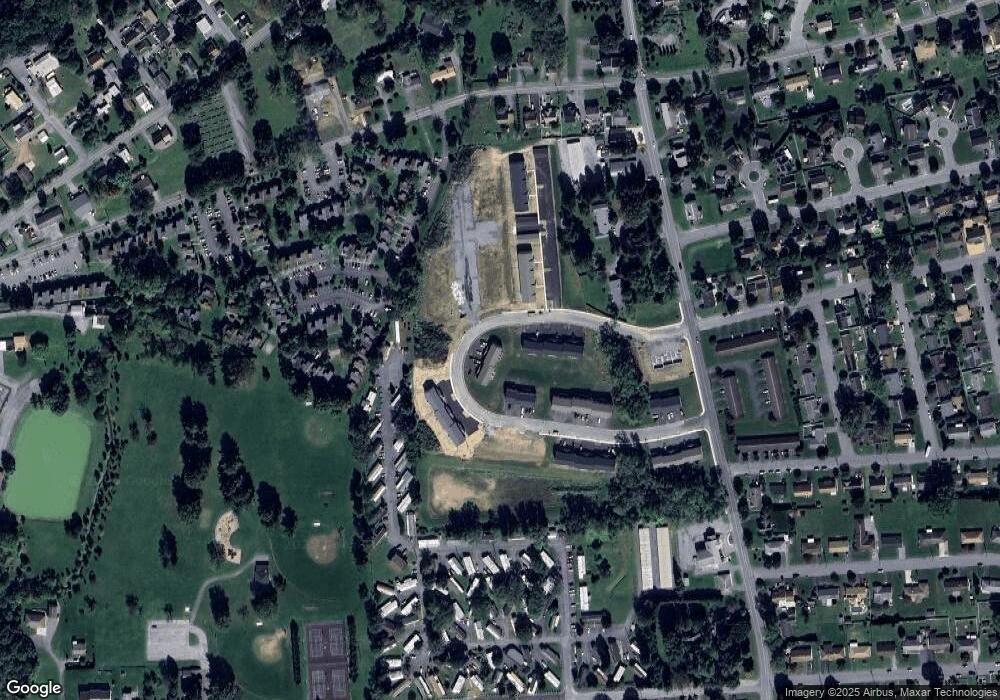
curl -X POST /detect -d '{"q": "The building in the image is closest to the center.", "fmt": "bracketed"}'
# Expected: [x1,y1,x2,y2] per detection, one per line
[474,340,505,386]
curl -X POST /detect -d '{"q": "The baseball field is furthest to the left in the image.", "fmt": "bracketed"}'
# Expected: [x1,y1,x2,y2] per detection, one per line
[252,628,294,663]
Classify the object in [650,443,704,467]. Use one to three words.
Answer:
building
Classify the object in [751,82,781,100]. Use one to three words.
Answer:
house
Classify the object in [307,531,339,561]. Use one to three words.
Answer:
baseball field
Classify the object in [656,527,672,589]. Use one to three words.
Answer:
shed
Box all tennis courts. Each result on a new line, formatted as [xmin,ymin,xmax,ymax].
[329,627,343,656]
[312,672,325,700]
[332,670,346,699]
[309,629,323,657]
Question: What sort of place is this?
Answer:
residential area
